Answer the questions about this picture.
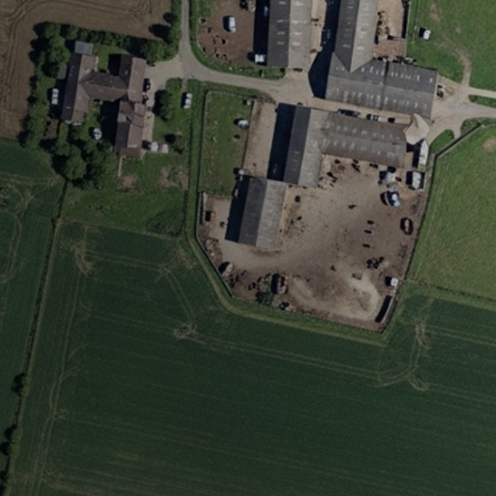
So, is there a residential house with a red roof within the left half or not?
No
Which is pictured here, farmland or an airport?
farmland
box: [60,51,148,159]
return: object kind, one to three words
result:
house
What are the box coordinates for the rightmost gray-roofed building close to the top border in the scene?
[323,0,439,117]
